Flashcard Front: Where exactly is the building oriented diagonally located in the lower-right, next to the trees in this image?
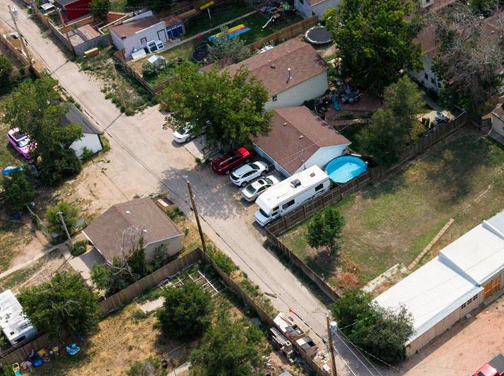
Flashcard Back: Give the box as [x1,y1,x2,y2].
[380,208,504,357]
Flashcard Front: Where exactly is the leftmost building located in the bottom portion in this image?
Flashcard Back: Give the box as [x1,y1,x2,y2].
[82,197,184,278]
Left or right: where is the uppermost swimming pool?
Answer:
right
